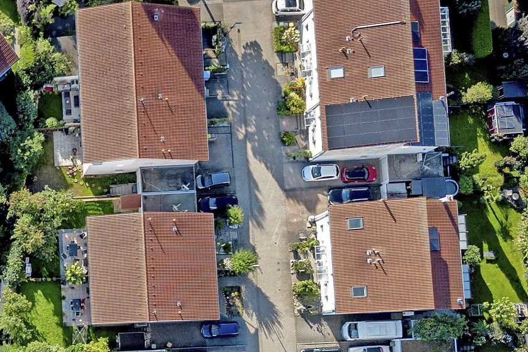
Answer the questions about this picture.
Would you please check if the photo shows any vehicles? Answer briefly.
Yes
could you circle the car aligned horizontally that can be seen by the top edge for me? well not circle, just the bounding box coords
[271,0,305,16]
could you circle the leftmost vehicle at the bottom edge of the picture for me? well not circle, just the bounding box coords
[200,321,238,339]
